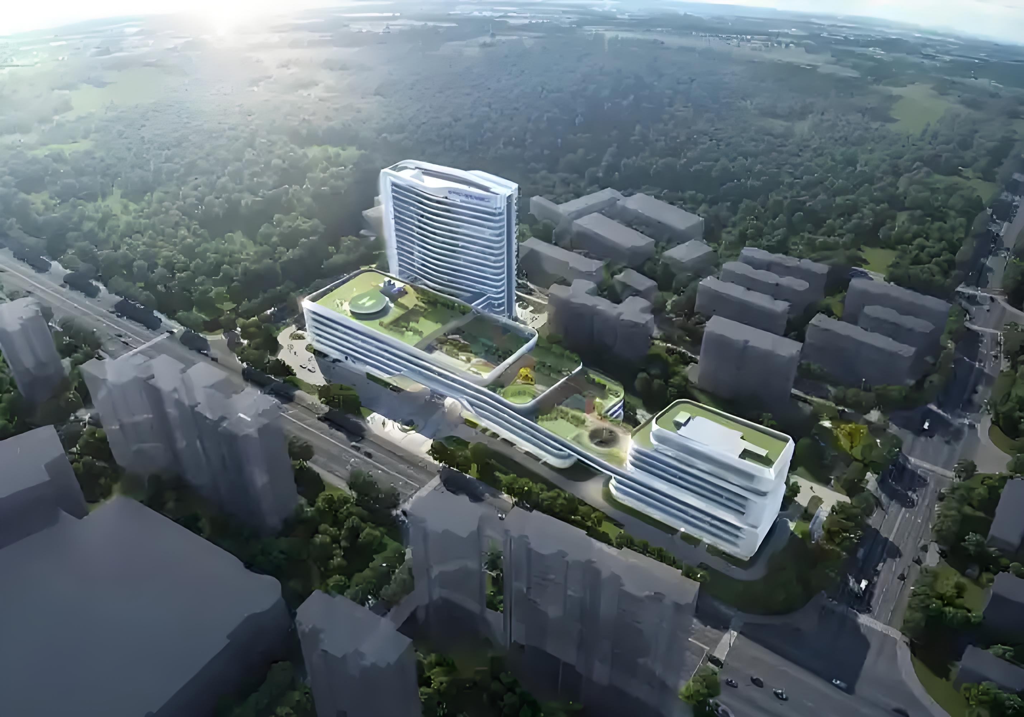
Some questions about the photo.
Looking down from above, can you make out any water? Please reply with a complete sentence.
No, the scene doesn't show any water.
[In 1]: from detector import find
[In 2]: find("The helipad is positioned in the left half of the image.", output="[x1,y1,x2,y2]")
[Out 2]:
[348,291,386,313]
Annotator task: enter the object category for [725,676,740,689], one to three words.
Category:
vehicle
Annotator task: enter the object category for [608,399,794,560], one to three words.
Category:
building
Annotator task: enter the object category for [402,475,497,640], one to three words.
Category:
building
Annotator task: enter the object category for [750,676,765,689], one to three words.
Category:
vehicle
